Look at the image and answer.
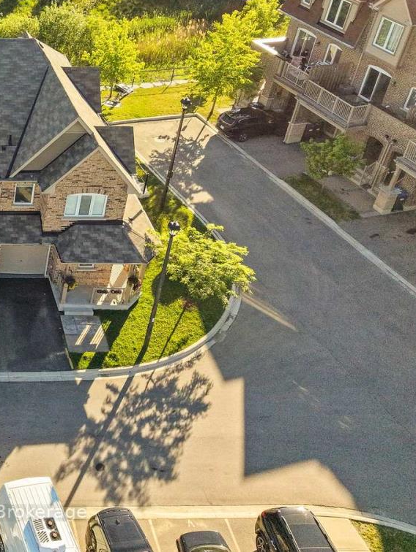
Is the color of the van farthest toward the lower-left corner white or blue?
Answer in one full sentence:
The color of the van farthest toward the lower-left corner is white.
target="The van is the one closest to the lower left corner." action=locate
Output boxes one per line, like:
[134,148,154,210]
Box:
[0,474,77,552]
